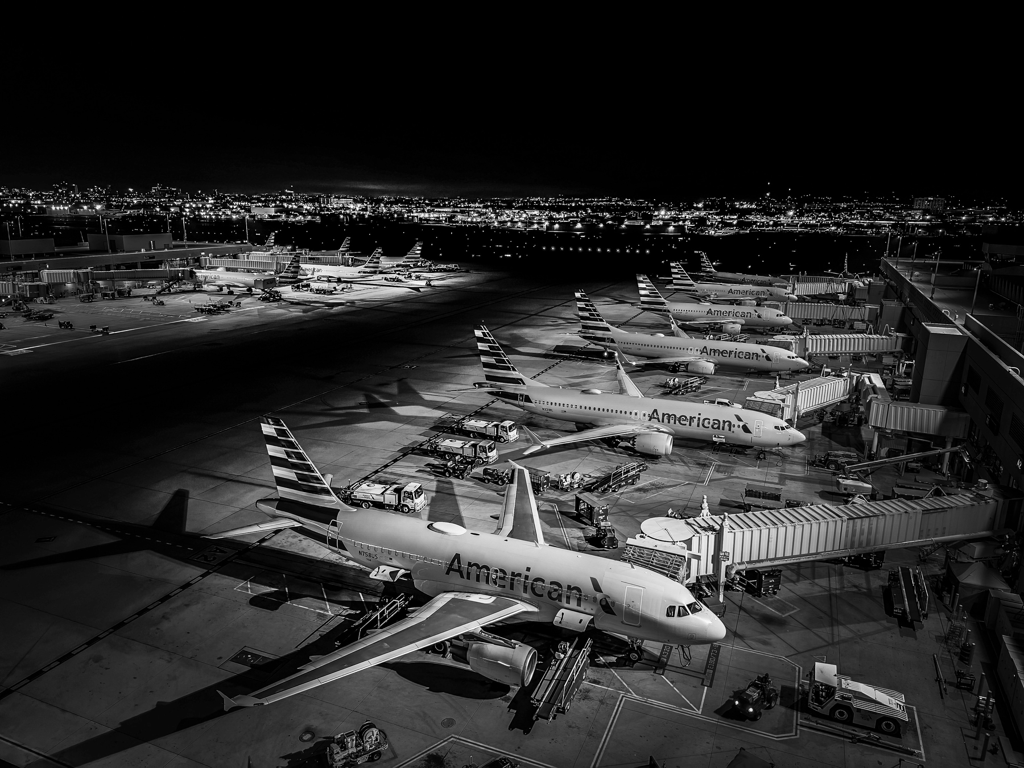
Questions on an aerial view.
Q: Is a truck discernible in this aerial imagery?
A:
Yes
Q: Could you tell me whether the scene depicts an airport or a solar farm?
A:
airport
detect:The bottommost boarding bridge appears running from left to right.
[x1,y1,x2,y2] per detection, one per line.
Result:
[622,484,1024,620]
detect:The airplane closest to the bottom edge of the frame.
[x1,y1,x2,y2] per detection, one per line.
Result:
[200,415,725,712]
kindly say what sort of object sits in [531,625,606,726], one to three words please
work vehicle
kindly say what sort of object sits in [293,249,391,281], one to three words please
airplane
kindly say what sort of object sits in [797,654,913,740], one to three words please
work vehicle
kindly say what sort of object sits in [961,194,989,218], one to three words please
building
